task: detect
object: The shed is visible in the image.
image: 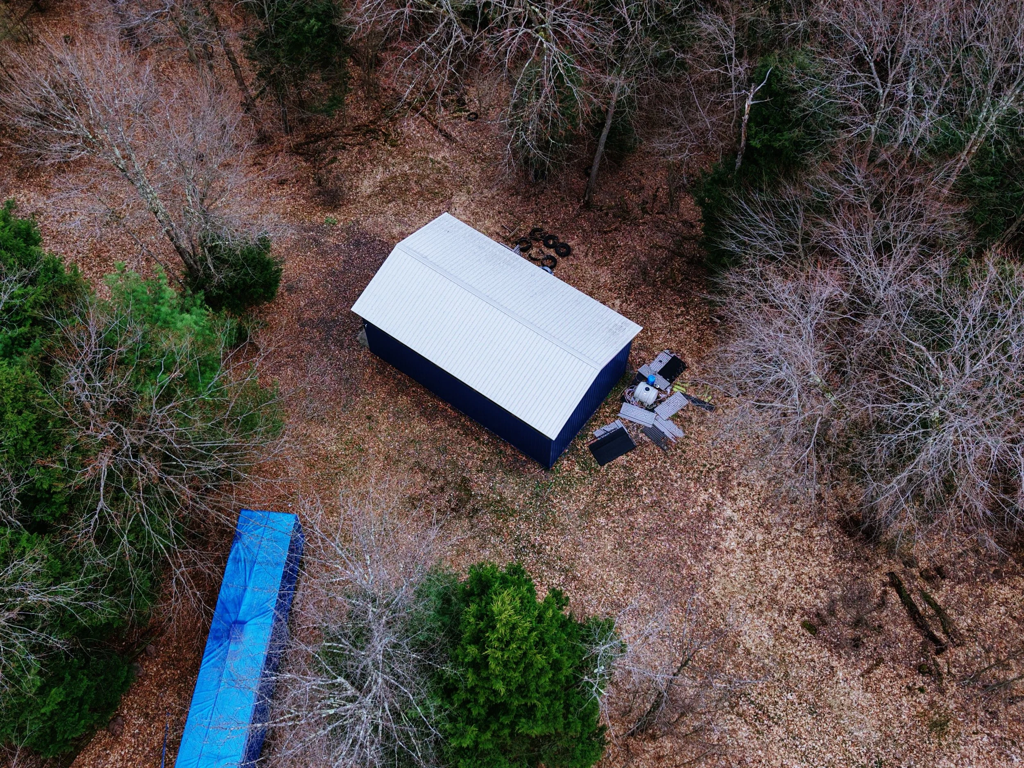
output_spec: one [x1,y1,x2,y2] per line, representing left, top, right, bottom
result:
[350,210,644,470]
